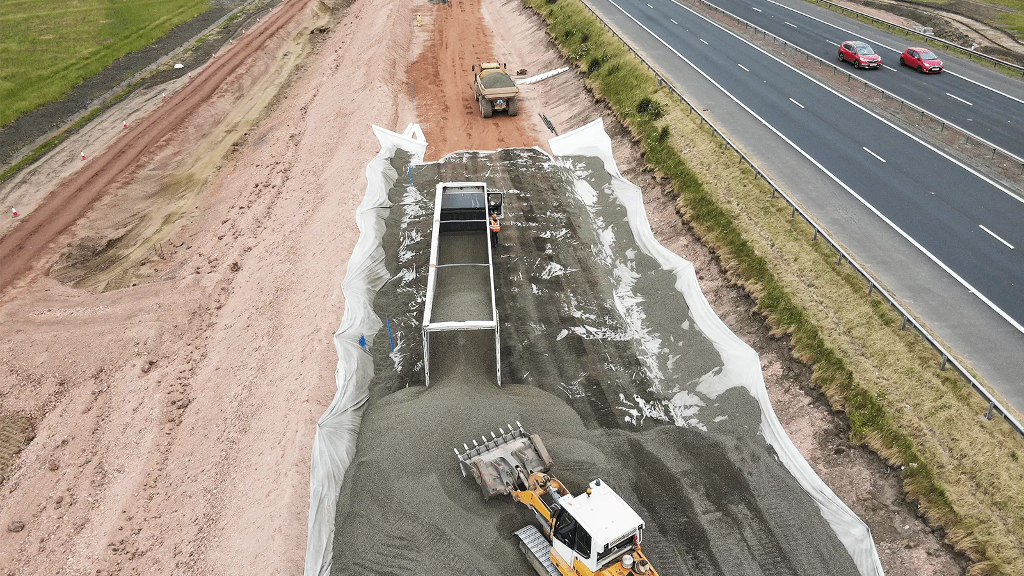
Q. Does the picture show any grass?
Yes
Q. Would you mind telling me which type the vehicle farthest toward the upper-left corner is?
truck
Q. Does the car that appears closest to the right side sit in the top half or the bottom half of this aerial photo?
top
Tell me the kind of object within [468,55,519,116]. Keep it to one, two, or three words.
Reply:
truck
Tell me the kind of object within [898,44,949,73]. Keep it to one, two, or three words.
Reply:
car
